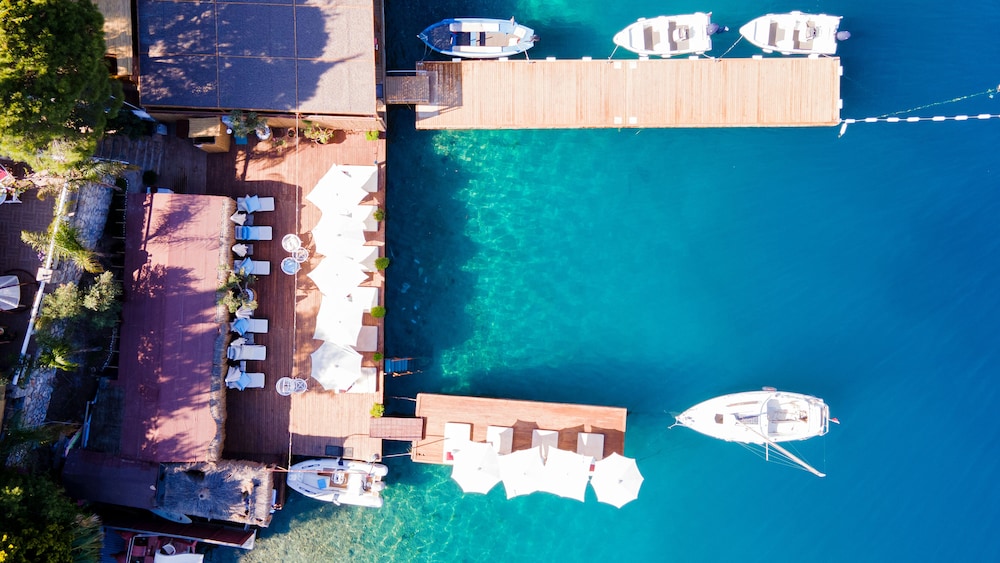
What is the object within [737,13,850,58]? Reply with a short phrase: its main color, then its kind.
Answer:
white boat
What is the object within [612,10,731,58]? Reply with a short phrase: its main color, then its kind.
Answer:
white boat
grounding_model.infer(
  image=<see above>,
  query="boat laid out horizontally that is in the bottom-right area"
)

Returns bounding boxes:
[669,387,846,473]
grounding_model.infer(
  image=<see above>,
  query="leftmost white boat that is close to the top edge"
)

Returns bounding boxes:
[417,17,540,58]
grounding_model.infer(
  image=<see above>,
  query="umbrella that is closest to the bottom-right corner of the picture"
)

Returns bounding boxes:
[589,451,645,506]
